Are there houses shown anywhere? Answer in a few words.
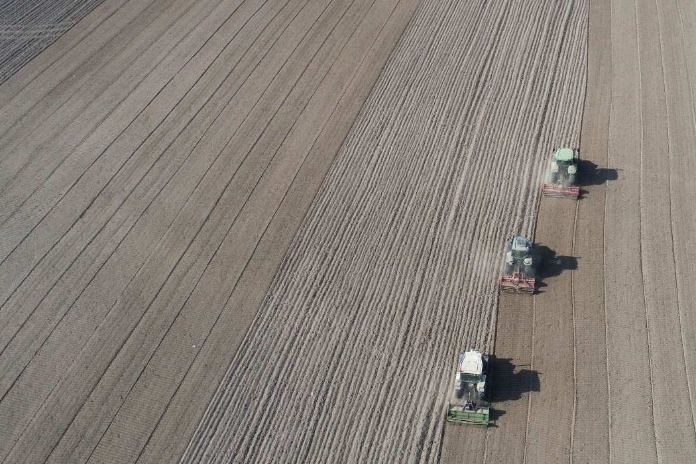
No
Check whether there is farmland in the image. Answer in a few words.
Yes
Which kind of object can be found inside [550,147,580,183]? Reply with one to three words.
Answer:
work vehicle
